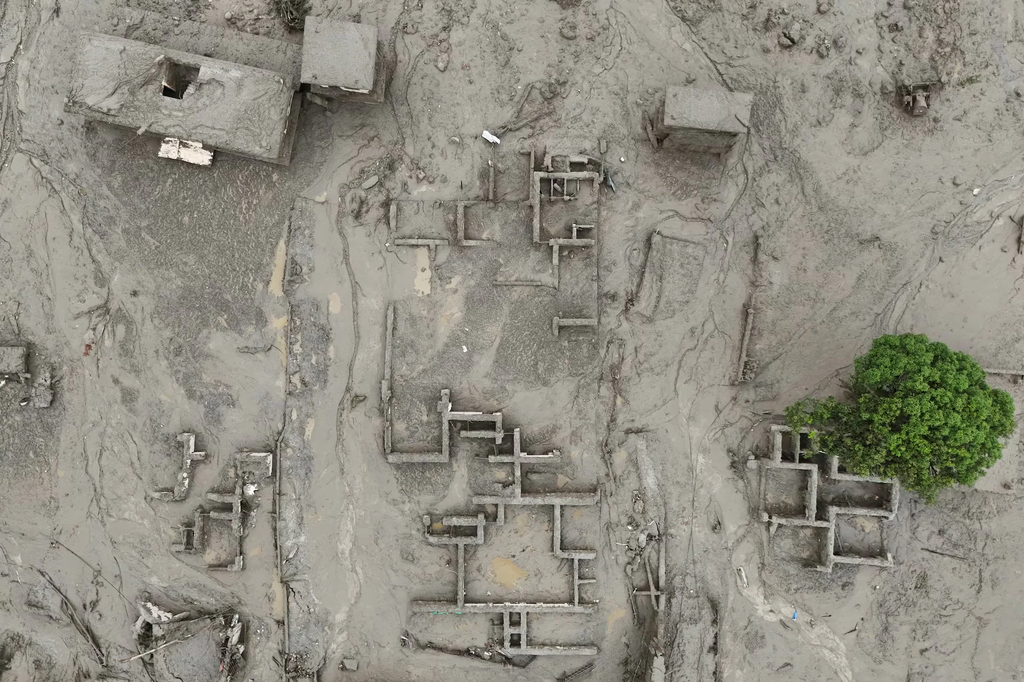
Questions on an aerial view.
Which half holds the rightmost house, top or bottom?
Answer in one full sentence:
The rightmost house sits in the bottom half of the picture.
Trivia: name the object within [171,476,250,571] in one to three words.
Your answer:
house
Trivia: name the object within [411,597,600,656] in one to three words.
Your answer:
house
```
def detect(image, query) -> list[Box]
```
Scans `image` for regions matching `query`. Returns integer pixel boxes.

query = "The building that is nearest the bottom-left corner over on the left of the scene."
[127,601,248,682]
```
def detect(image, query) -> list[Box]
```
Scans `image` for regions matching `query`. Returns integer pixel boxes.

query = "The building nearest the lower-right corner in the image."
[755,423,899,572]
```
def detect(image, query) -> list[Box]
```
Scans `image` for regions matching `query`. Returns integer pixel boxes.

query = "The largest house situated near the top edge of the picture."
[60,33,310,166]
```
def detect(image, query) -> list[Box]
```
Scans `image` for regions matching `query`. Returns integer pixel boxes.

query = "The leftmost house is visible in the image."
[0,346,38,386]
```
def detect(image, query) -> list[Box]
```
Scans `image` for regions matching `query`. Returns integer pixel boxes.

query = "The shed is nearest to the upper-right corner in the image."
[651,85,754,157]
